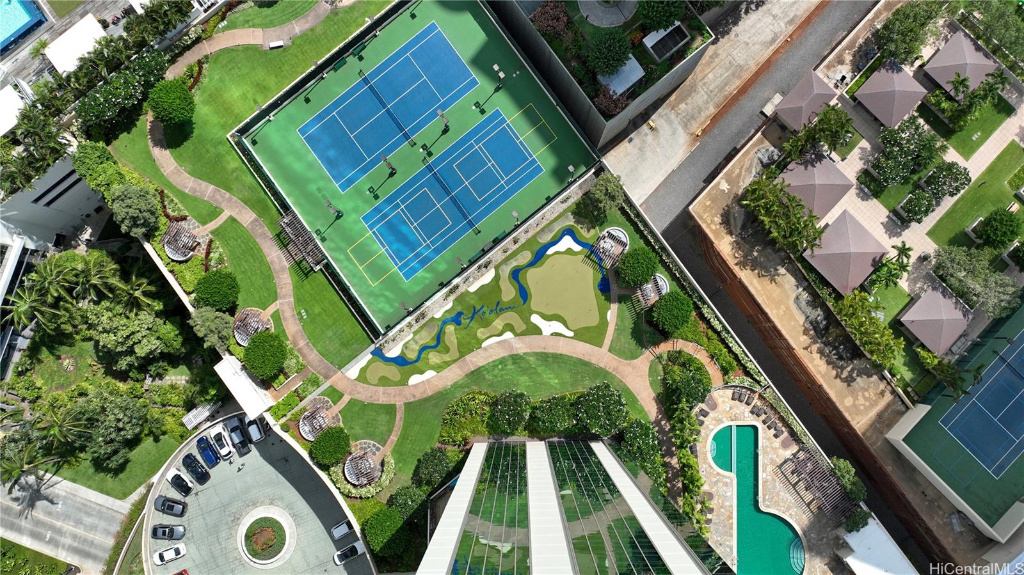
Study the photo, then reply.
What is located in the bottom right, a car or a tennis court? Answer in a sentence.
The one visible in the bottom right is a tennis court.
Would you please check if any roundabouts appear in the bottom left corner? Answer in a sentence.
Yes, the scene does show a roundabout in the bottom left corner.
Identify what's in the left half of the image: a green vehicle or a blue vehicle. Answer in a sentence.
You can see a blue vehicle in the left half of the image.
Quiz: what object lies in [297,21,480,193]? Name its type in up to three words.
tennis court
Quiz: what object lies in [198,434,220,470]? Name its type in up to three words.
car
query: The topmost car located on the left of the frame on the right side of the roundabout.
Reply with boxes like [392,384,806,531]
[328,518,354,542]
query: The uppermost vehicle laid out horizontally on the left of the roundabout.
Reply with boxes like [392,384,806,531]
[154,498,190,516]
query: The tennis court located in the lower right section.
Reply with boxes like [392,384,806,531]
[884,293,1024,545]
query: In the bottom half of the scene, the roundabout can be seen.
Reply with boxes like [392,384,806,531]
[236,507,296,568]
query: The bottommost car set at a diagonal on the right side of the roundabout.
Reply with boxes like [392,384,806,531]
[331,540,366,569]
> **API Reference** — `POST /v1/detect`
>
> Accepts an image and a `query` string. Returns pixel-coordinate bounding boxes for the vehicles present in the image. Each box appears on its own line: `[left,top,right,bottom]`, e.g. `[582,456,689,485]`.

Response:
[328,518,354,542]
[152,524,187,541]
[185,451,211,487]
[154,498,190,516]
[167,467,195,500]
[228,417,252,458]
[331,540,366,569]
[153,541,189,565]
[211,425,235,463]
[242,416,269,446]
[198,434,220,470]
